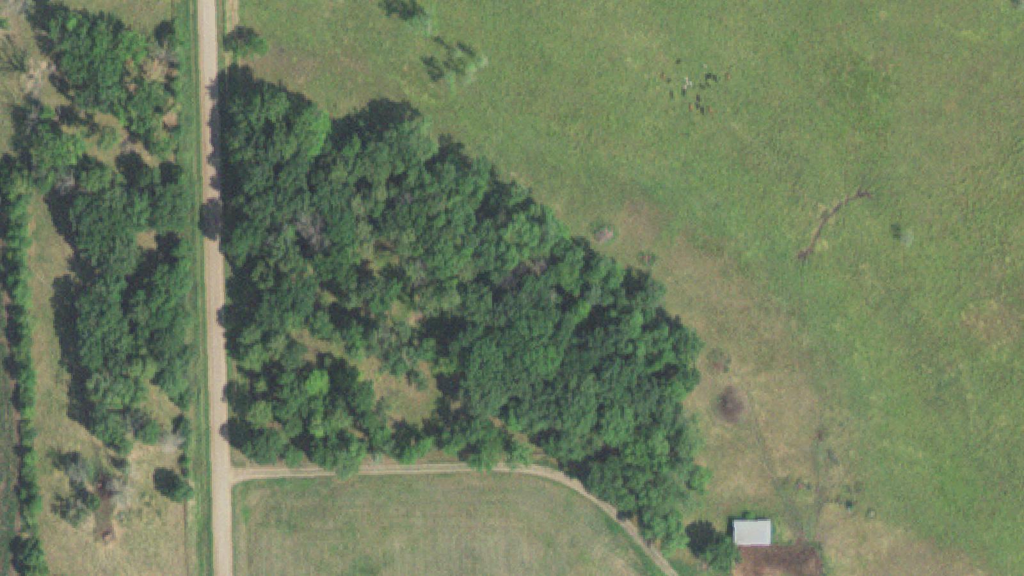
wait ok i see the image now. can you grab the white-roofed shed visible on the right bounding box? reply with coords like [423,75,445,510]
[733,519,771,545]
